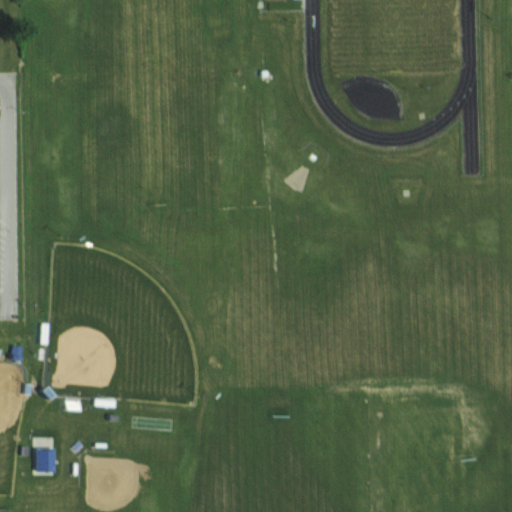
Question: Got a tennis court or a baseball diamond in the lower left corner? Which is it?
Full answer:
Visible in the lower left corner is a baseball diamond.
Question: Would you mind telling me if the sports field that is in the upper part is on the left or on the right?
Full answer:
The sports field that is in the upper part appears in the right half of the scene.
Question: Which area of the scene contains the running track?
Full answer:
The running track appears toward the top right of the photo.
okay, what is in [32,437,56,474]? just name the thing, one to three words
building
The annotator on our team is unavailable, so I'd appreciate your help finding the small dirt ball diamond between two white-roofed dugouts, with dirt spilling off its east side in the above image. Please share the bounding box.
[84,455,150,511]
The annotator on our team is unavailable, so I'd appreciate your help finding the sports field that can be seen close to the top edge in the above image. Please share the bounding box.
[329,0,459,75]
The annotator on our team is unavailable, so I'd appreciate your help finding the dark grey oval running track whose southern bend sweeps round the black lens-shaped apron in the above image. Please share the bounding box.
[304,0,480,174]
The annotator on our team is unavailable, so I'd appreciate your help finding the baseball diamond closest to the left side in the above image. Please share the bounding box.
[0,363,26,495]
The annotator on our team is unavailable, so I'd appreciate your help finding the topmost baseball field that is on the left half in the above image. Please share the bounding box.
[46,243,195,403]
